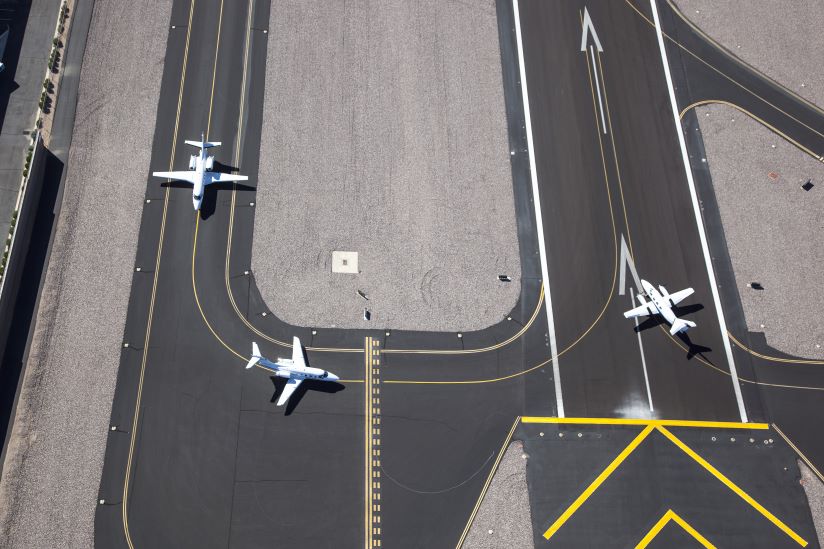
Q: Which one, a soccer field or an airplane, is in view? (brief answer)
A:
airplane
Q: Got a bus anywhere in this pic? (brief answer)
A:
No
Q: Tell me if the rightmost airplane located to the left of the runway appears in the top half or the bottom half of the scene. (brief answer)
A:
bottom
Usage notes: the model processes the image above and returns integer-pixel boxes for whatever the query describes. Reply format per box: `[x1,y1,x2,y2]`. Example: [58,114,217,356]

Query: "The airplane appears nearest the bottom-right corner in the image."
[623,280,698,335]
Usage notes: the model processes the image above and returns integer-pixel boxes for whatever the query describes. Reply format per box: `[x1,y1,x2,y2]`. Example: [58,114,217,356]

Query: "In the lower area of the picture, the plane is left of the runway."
[246,337,341,406]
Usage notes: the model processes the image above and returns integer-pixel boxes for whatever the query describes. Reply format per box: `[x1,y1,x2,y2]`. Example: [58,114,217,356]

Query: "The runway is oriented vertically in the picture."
[508,0,768,428]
